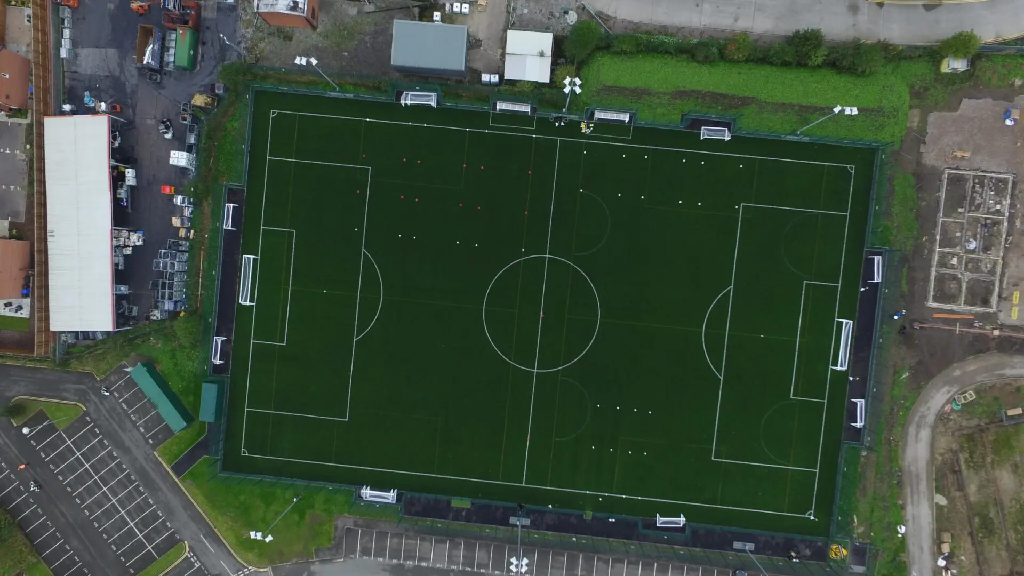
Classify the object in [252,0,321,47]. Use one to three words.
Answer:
building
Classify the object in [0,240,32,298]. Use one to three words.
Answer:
house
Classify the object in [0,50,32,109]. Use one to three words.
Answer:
house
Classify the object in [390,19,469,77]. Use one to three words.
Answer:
shed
